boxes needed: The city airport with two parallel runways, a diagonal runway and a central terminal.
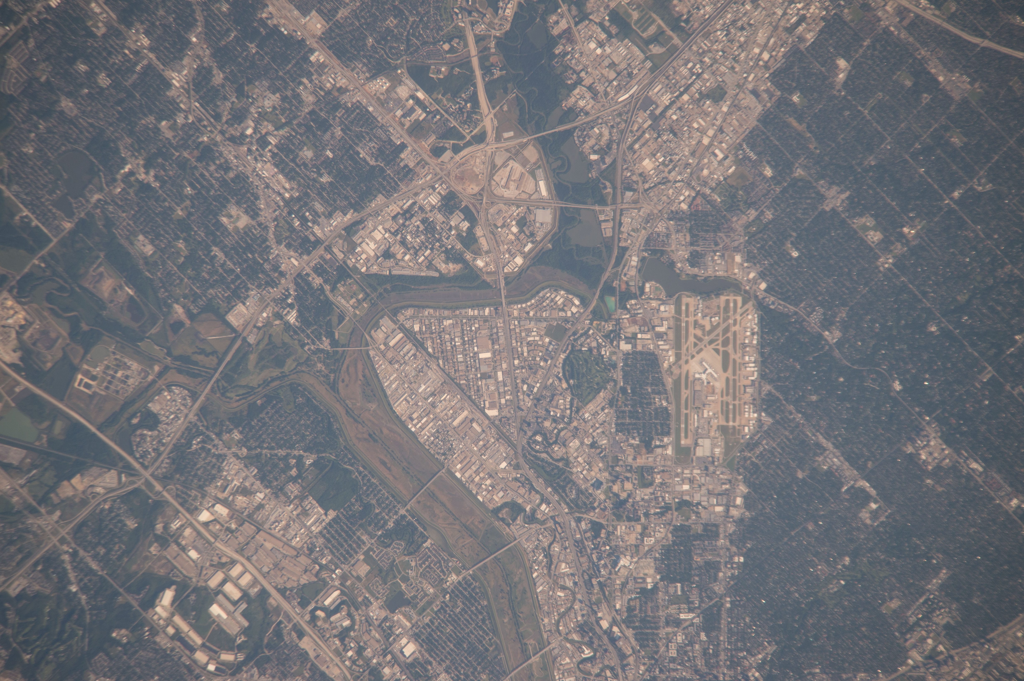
[671,292,759,466]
